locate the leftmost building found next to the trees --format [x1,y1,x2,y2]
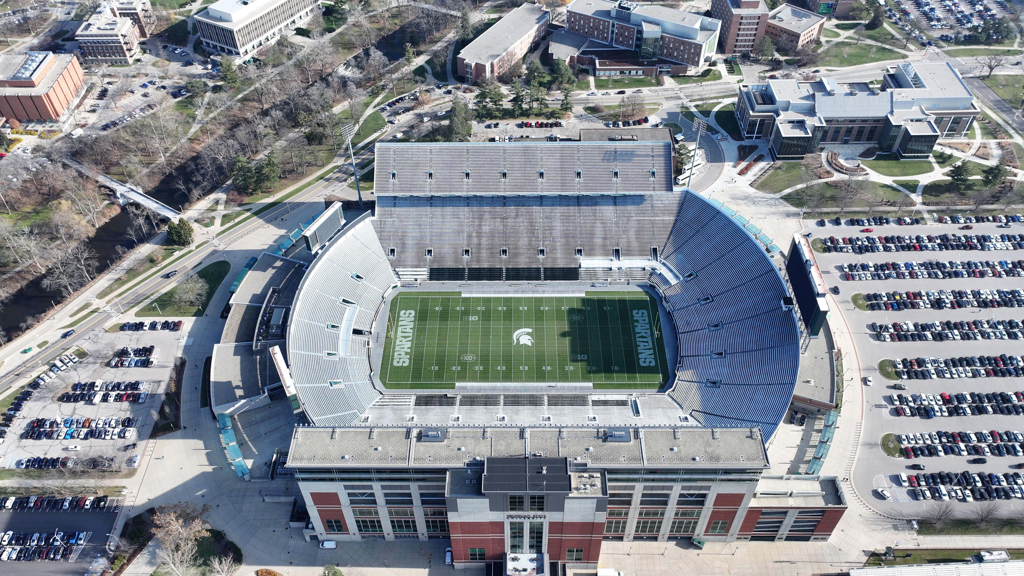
[0,51,85,124]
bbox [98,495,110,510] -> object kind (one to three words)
vehicle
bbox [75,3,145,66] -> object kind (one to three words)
building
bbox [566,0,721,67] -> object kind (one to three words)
building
